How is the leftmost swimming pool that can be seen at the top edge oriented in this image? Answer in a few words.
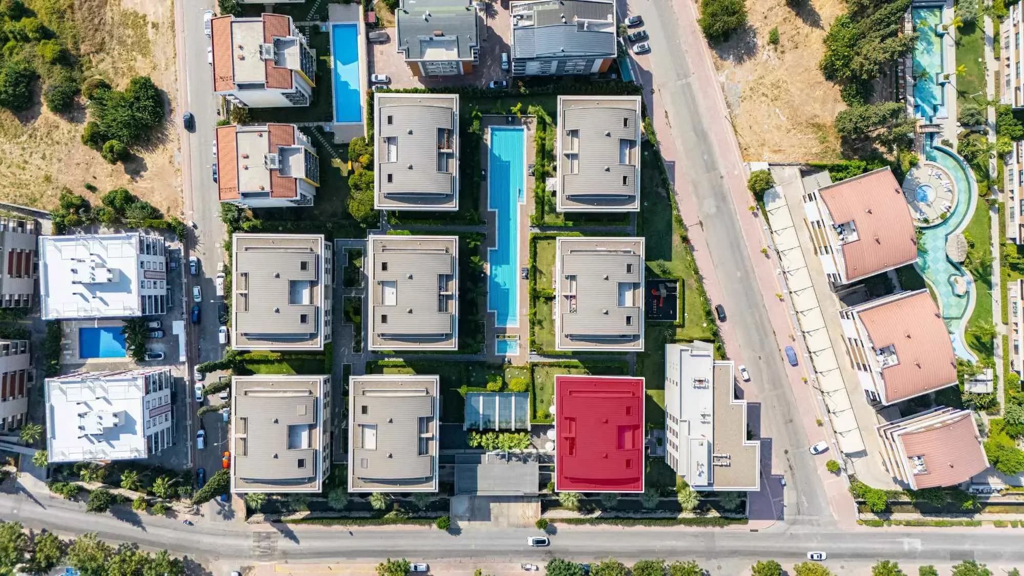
up and down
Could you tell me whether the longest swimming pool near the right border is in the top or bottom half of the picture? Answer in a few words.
top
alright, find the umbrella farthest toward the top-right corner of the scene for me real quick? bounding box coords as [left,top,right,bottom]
[943,237,965,259]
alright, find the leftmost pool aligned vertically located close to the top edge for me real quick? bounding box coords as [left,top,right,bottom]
[329,21,362,125]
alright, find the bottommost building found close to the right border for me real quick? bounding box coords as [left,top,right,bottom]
[877,404,988,492]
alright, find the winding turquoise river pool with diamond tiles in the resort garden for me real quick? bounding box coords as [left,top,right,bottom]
[910,3,981,366]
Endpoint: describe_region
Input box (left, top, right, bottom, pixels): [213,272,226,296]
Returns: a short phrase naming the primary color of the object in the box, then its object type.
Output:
white vehicle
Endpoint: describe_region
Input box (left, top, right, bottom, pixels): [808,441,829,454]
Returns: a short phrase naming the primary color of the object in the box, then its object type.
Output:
white vehicle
